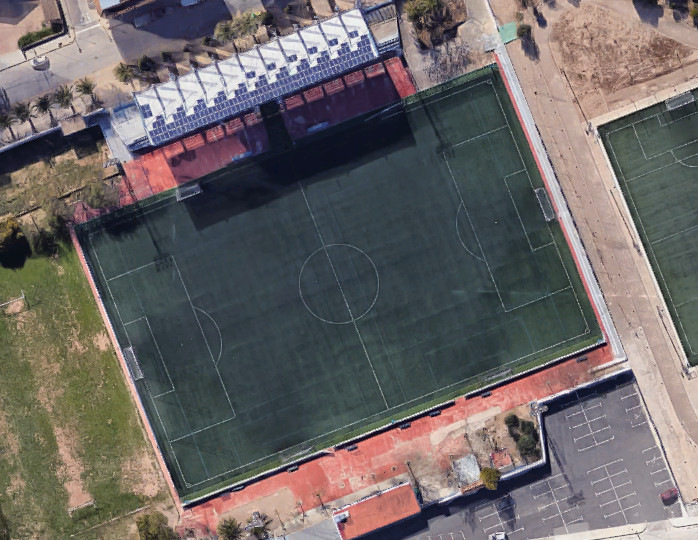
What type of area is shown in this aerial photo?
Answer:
sports ground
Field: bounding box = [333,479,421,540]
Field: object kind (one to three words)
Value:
building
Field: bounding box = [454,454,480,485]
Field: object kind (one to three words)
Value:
shed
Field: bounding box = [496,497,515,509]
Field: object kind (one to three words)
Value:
vehicle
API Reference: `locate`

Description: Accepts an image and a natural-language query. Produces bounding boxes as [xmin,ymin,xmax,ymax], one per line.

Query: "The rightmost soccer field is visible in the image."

[601,90,698,367]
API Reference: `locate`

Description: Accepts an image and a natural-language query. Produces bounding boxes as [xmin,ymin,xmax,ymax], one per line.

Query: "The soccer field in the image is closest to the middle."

[76,65,607,505]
